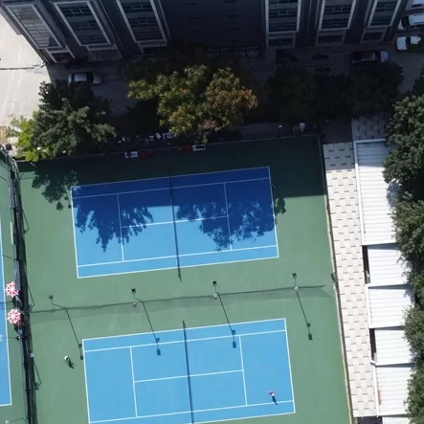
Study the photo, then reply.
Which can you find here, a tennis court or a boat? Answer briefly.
tennis court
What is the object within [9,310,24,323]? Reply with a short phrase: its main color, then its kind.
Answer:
white umbrella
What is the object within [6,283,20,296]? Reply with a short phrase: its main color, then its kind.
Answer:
white umbrella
